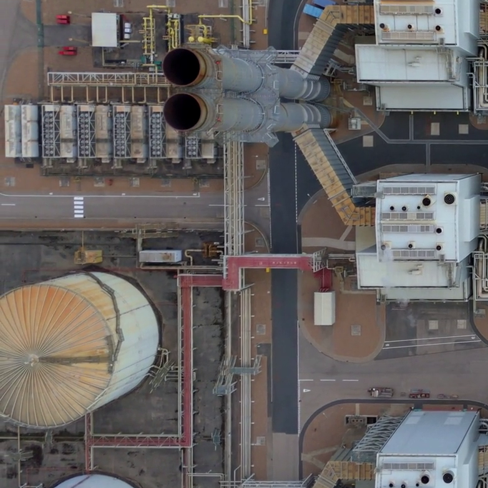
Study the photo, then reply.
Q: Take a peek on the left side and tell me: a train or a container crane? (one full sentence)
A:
Visible on the left side is a train.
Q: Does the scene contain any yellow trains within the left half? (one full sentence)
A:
Yes, there is a yellow train within the left half.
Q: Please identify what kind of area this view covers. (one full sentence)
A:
This image shows an industrial area.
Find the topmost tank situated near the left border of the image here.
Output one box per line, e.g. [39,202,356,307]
[0,267,163,428]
